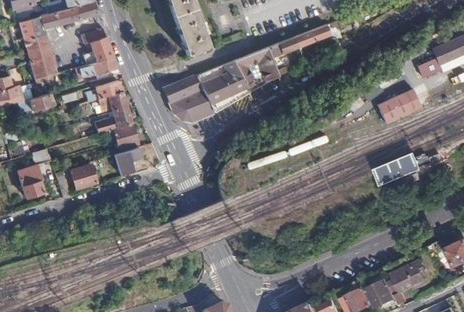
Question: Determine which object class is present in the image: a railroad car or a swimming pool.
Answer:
railroad car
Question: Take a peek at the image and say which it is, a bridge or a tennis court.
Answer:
bridge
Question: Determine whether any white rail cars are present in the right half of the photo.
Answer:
Yes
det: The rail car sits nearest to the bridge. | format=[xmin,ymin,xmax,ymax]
[245,152,288,170]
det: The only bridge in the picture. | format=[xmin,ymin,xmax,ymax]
[162,199,235,258]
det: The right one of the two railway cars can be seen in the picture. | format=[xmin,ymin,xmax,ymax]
[286,136,329,156]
